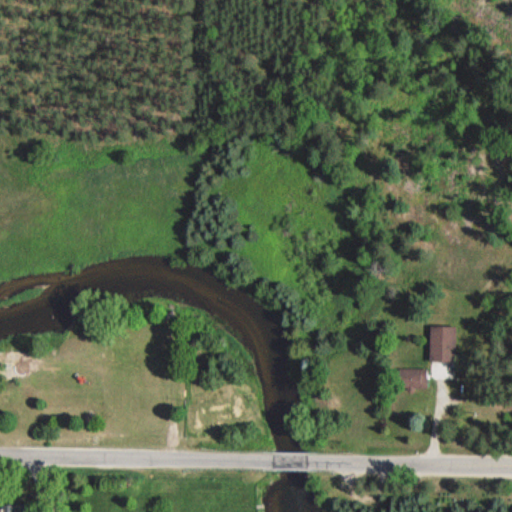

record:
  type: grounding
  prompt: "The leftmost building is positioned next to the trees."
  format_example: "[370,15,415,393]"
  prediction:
[402,368,426,394]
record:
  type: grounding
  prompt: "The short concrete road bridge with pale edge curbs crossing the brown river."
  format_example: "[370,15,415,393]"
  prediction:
[272,451,312,472]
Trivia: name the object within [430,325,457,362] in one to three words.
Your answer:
building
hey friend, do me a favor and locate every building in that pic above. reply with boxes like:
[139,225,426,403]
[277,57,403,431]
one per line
[402,368,426,394]
[430,325,457,362]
